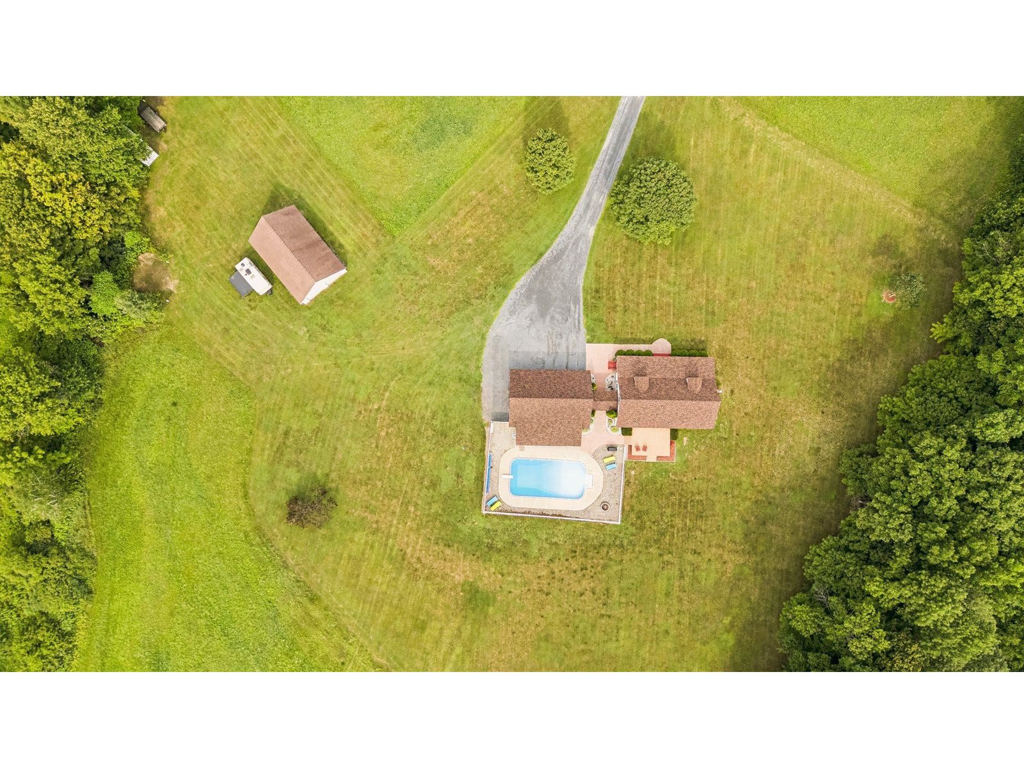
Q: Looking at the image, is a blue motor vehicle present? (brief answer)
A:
No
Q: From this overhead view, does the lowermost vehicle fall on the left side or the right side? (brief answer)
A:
left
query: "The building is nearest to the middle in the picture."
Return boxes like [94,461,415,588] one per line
[509,369,593,446]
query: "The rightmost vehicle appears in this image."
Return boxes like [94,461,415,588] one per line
[232,257,277,299]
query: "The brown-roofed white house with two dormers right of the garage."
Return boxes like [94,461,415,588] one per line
[607,353,721,429]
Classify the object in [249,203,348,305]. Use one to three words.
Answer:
barn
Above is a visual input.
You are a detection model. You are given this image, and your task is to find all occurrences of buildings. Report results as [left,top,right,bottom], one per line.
[509,369,593,446]
[607,353,721,429]
[249,203,348,305]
